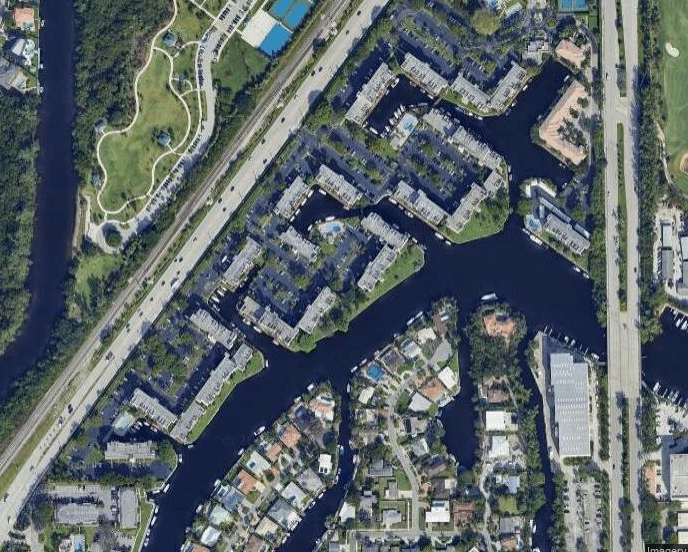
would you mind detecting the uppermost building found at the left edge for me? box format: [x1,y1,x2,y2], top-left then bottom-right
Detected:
[14,6,34,26]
